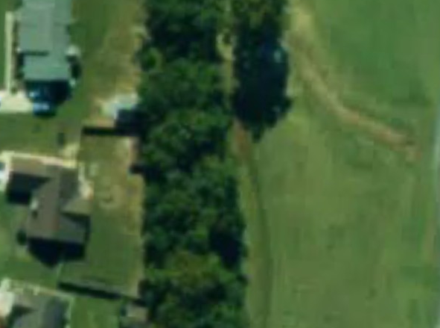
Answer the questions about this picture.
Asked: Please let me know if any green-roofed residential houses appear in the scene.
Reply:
Yes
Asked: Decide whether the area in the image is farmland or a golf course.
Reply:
golf course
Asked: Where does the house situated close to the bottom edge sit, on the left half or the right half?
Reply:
left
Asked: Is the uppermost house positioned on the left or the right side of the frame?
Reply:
left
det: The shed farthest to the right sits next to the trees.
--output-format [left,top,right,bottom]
[114,109,134,133]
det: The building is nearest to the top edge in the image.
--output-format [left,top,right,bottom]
[17,0,80,81]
